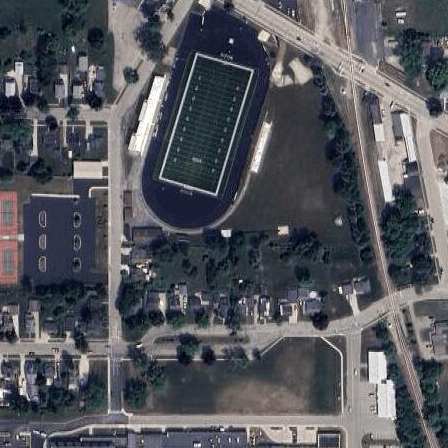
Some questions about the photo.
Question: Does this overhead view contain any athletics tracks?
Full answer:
Yes, there's an athletics track down there.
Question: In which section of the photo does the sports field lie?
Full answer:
The sports field is located in the top region of the scene.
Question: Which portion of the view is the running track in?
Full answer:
The running track is located in the top region of the scene.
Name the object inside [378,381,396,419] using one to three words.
building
